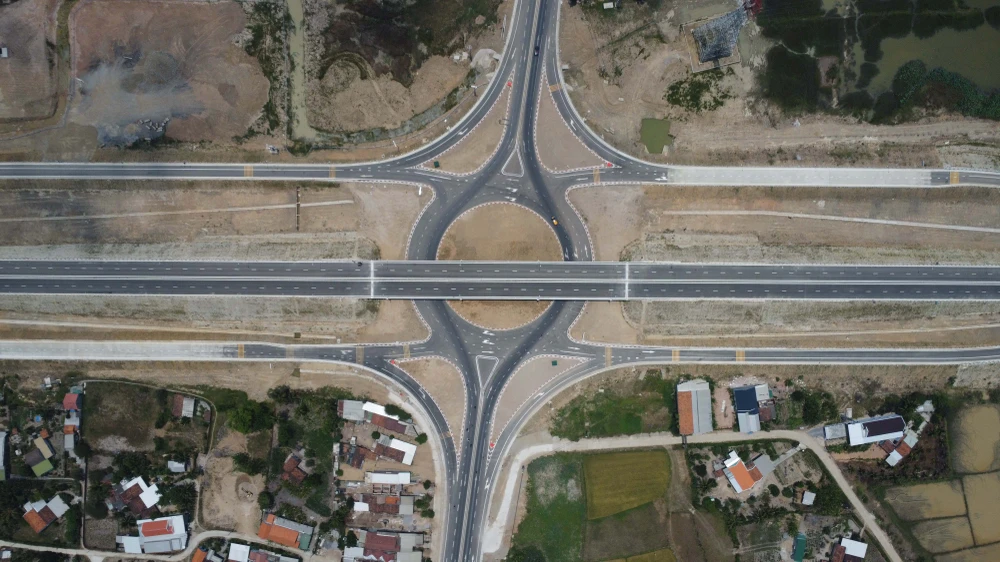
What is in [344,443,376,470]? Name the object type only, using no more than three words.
house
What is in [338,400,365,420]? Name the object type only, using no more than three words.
house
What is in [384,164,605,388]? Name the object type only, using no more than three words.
roundabout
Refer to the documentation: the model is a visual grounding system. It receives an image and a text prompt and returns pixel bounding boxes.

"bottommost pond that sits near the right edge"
[871,25,1000,96]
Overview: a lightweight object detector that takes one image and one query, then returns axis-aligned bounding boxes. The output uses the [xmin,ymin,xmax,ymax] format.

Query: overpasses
[371,260,628,300]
